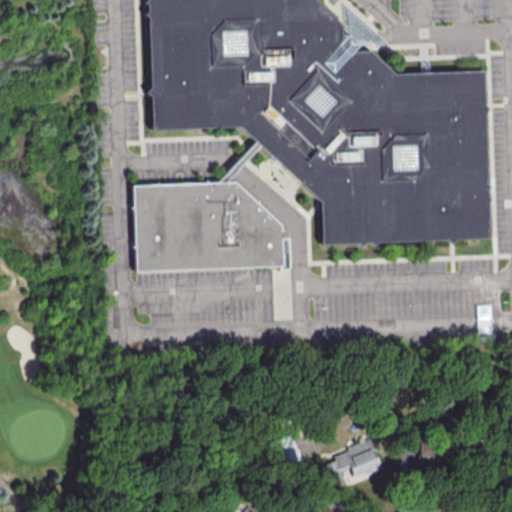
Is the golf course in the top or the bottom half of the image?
bottom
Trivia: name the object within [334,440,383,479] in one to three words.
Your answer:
house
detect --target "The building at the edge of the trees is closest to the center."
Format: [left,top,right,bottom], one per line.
[134,182,292,272]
